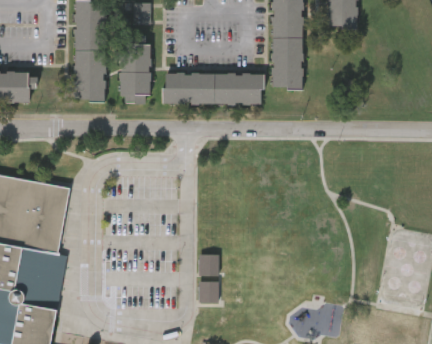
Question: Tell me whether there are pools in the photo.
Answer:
No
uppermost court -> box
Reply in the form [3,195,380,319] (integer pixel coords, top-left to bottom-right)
[376,229,432,317]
